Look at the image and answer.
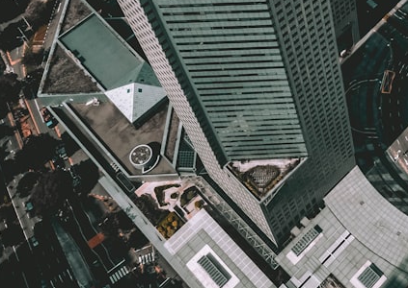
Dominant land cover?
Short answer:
buildings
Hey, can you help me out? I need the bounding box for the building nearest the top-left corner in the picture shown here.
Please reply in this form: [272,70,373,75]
[37,0,202,198]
